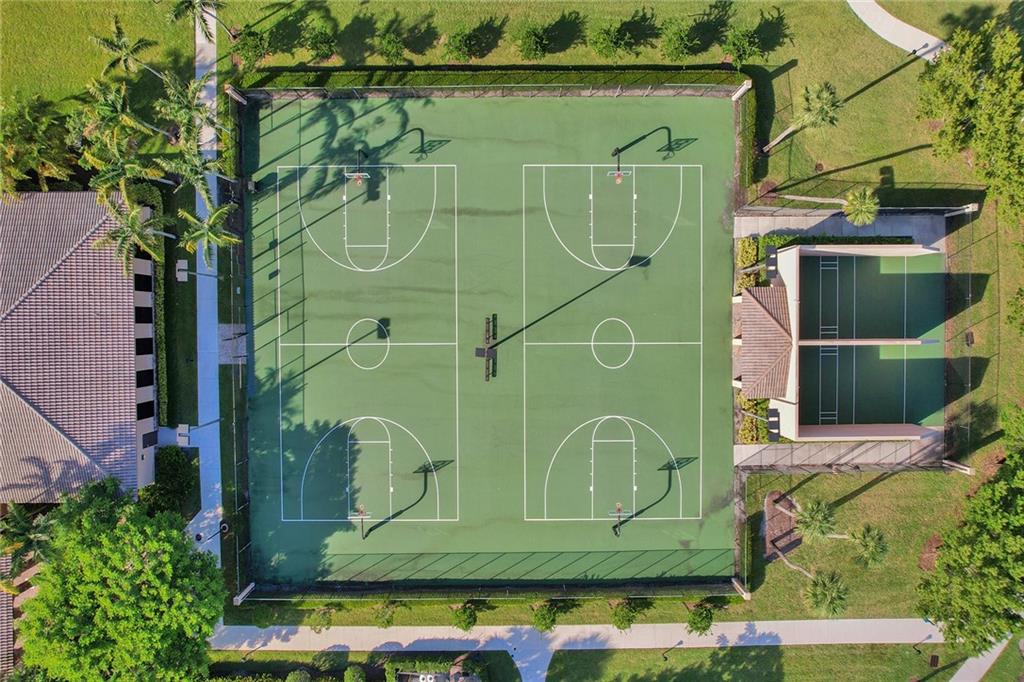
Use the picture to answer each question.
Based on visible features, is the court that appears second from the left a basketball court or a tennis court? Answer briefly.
basketball court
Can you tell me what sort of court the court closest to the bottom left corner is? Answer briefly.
basketball court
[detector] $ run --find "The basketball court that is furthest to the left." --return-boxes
[277,165,459,521]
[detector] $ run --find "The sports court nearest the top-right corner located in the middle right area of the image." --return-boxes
[800,254,943,340]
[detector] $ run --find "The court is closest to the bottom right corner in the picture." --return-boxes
[799,341,943,427]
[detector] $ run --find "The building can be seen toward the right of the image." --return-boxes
[734,286,794,399]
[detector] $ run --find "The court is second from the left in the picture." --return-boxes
[523,165,702,520]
